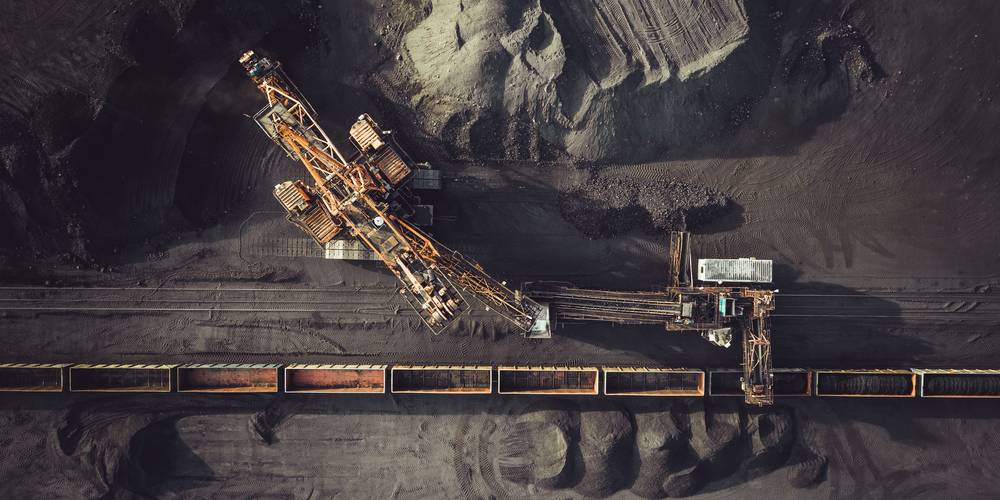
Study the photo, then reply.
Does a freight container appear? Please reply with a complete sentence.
Yes, a freight container appears in the view.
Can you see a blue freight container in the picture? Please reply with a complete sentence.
No, no blue freight container is visible in the scene.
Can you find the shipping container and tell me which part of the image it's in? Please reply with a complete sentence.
You can find the shipping container in the right area of the picture.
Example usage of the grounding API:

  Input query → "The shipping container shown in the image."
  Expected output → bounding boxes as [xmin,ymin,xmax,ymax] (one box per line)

[691,258,772,283]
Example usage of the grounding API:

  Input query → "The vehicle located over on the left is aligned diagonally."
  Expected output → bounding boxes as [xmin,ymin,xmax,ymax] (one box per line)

[231,43,549,334]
